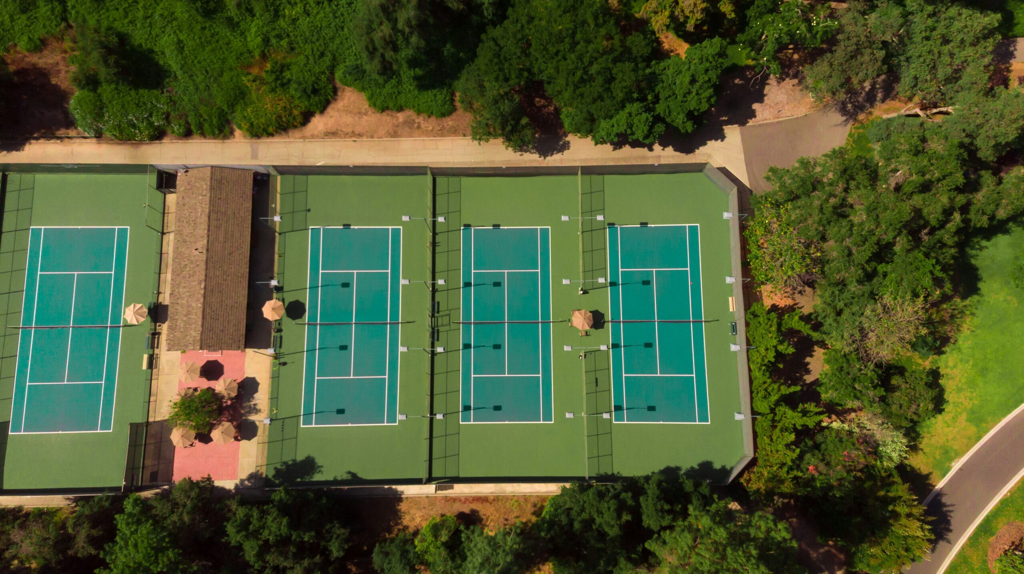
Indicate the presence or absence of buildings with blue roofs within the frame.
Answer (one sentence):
No, the scene contains no building with a blue roof.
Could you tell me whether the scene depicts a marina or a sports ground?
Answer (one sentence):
It's a sports ground.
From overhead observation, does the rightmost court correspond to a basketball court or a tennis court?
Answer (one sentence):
From above, the rightmost court can be identified as a tennis court.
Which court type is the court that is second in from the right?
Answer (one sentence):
From above, the court that is second in from the right can be identified as a tennis court.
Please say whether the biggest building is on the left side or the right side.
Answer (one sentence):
The biggest building appears in the left half of the scene.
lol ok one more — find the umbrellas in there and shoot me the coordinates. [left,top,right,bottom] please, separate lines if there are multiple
[211,420,236,446]
[172,426,196,450]
[125,303,149,326]
[217,376,239,399]
[571,309,593,331]
[263,299,285,321]
[181,360,203,382]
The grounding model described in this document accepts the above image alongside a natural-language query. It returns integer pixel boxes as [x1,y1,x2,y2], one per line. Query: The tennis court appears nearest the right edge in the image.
[580,173,745,482]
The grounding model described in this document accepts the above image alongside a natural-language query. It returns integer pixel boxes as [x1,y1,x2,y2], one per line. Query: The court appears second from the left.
[265,176,432,485]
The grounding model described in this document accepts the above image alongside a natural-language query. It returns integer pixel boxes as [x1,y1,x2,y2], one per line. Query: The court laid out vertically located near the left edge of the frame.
[0,173,164,493]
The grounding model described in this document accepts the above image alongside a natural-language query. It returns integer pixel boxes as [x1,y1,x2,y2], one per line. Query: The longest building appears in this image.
[166,166,253,352]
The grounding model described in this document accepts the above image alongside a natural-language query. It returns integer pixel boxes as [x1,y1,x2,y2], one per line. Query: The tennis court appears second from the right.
[429,175,586,481]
